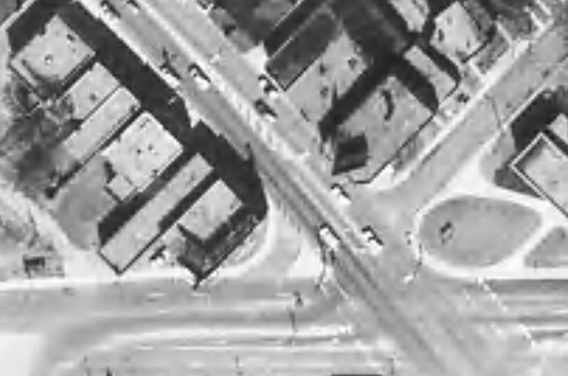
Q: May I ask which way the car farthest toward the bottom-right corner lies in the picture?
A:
diagonally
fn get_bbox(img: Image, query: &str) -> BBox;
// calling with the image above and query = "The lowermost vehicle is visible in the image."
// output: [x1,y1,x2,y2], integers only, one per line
[148,249,172,267]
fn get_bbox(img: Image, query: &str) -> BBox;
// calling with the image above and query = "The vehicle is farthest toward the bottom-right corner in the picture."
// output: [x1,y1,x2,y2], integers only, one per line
[362,227,384,249]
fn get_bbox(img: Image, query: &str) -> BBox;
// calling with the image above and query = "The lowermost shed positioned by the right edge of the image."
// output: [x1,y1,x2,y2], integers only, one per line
[549,114,568,141]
